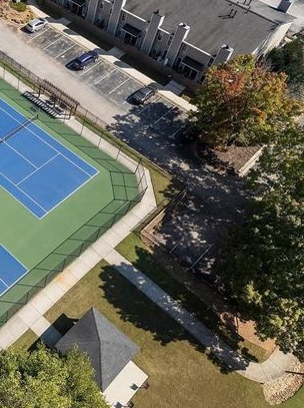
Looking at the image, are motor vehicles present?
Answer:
Yes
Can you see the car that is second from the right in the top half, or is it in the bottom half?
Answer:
top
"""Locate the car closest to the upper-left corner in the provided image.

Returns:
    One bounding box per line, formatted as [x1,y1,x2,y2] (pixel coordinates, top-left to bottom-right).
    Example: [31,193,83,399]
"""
[21,19,44,35]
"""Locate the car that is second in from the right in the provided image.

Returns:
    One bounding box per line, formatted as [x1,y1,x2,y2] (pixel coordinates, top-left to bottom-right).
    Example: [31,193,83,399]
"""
[70,49,97,69]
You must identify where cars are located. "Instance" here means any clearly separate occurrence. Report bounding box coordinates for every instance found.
[21,19,44,35]
[70,49,97,69]
[128,86,156,107]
